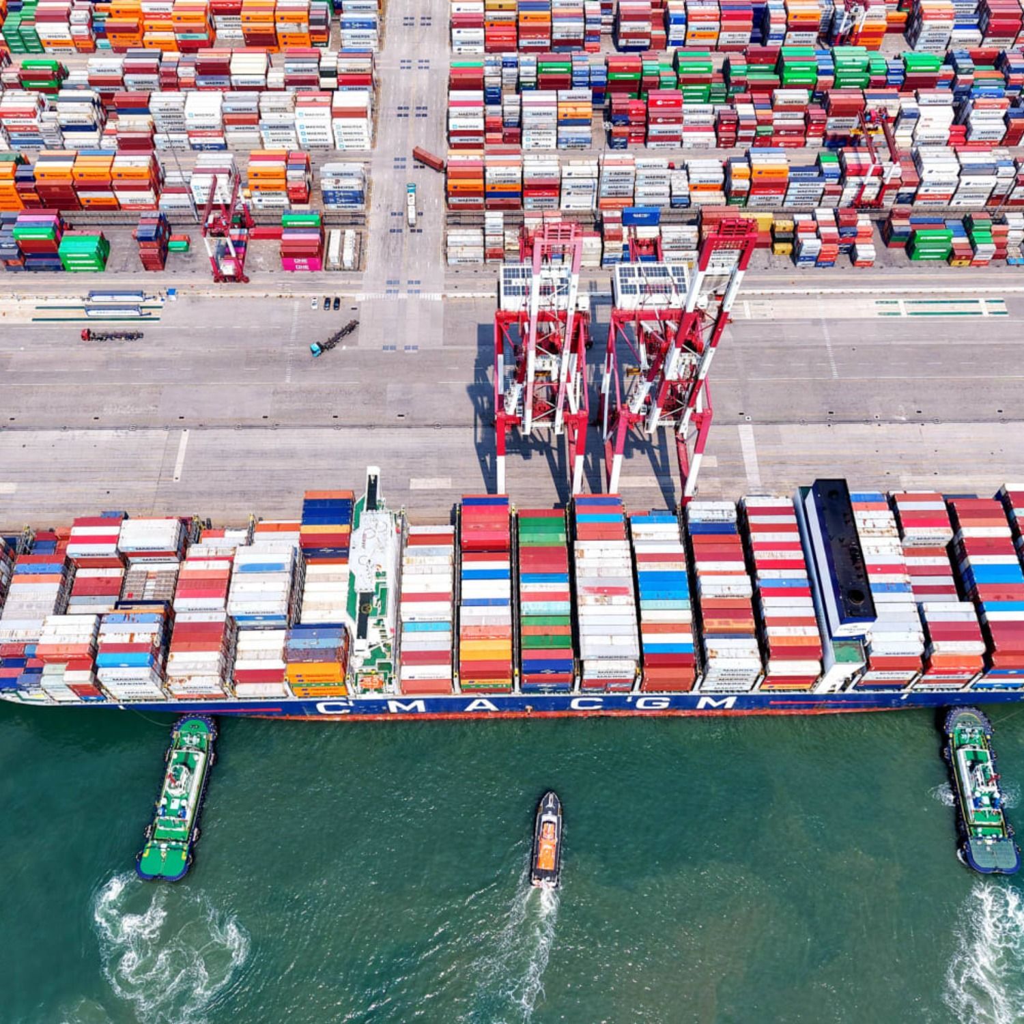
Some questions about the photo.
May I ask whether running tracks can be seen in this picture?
No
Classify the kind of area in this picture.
port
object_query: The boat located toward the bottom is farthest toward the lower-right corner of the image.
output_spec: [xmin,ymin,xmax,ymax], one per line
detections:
[937,702,1024,866]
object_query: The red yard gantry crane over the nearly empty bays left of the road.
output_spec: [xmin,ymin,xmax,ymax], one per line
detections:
[199,168,255,278]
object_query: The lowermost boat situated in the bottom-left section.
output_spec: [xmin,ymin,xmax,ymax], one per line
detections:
[138,715,219,880]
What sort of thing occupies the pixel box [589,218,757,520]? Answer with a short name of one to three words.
container crane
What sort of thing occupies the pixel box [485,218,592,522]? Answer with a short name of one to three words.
container crane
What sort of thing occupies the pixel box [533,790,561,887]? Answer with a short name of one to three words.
boat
